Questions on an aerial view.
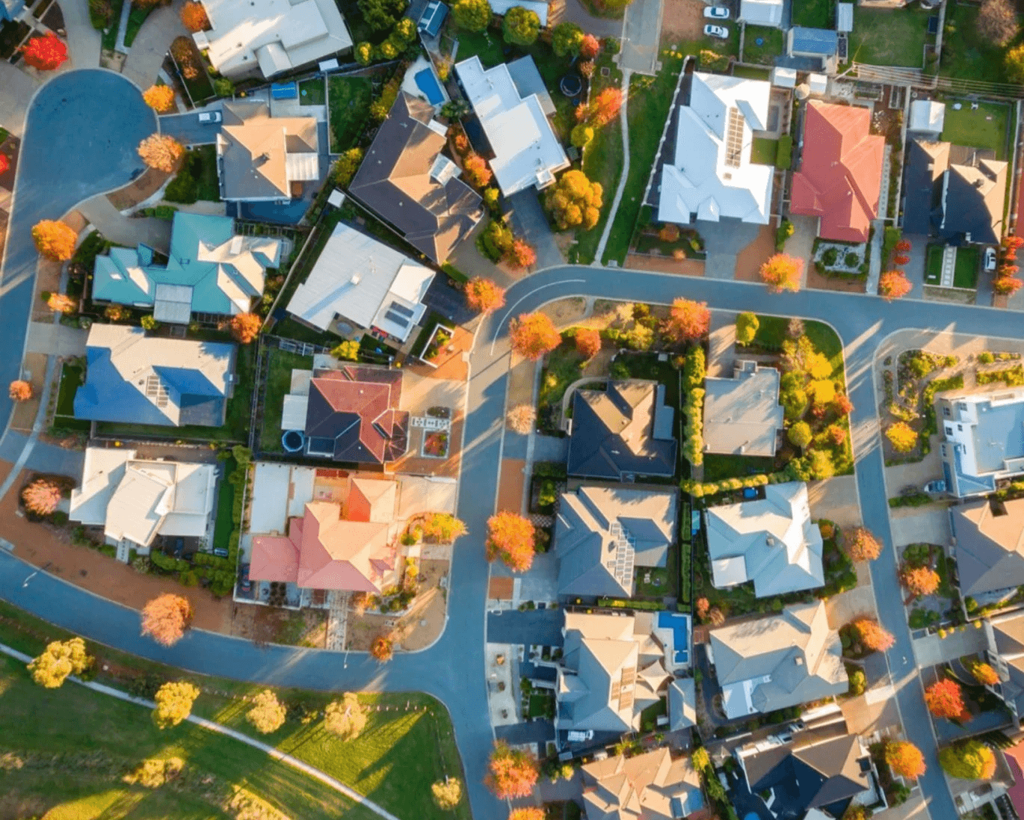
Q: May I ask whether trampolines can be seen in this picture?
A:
Yes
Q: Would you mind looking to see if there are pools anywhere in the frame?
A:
Yes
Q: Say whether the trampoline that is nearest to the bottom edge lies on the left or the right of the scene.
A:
left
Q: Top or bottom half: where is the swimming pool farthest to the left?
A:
top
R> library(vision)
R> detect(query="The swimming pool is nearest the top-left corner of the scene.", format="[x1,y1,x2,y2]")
[410,63,449,108]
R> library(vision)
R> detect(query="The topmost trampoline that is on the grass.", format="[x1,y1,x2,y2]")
[561,74,582,96]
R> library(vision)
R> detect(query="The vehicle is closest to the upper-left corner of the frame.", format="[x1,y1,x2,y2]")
[193,110,218,123]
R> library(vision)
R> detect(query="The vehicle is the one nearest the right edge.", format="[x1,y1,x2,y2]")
[983,247,997,272]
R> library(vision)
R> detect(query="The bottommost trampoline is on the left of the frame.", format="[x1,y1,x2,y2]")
[281,430,304,451]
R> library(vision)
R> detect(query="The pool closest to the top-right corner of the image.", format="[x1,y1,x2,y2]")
[767,102,782,132]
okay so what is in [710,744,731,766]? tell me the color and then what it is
gray gazebo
